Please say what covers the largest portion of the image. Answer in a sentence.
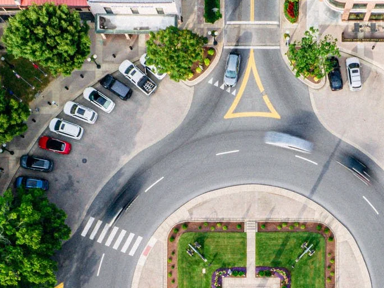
The largest share of the image is taken up by paved ground.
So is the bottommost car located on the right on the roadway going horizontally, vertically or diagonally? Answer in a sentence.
The bottommost car located on the right on the roadway is laid out diagonally.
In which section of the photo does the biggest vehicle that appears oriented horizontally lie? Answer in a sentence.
Look in the right portion of the view to spot the biggest vehicle that appears oriented horizontally.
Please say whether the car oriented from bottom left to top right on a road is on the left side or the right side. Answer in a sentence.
The car oriented from bottom left to top right on a road appears in the left half of the scene.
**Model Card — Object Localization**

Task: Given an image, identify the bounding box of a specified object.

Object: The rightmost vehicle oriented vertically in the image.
[345,57,362,92]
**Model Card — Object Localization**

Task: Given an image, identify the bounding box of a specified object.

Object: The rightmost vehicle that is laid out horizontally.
[266,130,312,155]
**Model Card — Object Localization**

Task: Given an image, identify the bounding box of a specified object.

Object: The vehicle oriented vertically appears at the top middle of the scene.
[223,50,240,87]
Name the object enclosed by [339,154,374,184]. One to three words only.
car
